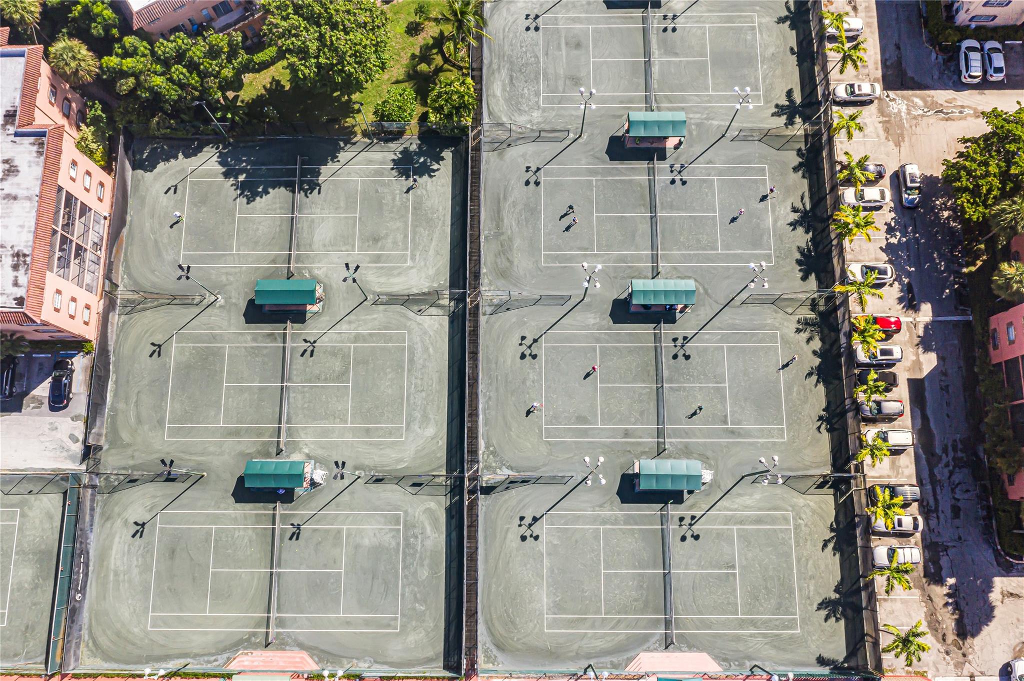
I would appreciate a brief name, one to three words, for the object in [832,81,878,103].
car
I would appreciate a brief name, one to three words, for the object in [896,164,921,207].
car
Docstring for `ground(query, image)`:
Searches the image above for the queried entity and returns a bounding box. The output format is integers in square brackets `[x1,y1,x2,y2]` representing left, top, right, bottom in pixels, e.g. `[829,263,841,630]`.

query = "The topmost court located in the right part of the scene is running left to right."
[483,0,823,136]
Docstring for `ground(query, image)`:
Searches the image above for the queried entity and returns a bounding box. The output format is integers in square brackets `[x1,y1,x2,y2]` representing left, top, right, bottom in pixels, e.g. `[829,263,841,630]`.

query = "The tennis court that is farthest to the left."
[0,477,70,668]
